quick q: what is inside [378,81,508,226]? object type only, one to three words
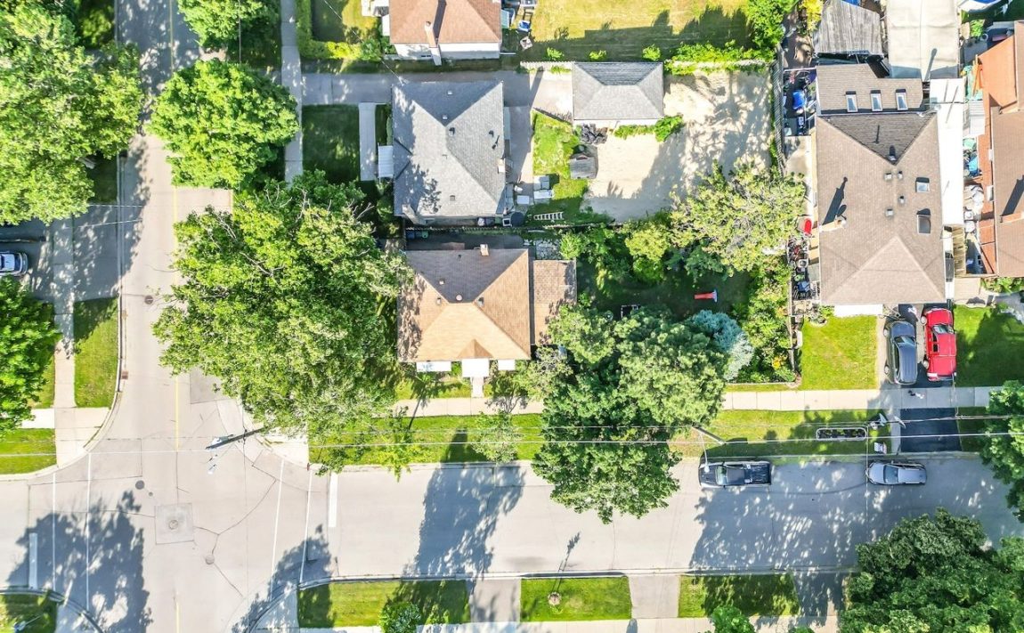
house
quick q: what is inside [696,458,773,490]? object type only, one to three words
truck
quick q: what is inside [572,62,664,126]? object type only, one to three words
building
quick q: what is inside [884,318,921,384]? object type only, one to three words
car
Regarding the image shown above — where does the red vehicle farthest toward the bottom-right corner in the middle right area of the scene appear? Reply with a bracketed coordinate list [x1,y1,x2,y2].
[922,310,958,380]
